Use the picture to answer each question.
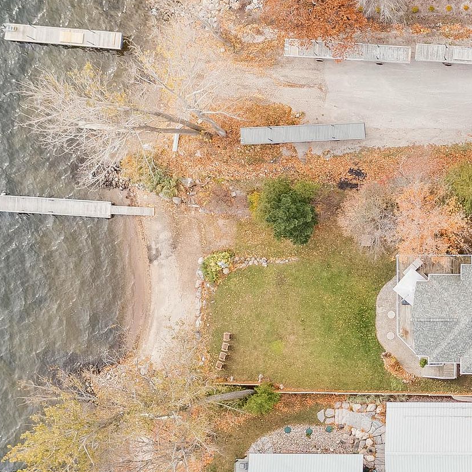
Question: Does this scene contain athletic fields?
No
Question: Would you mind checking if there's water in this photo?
Yes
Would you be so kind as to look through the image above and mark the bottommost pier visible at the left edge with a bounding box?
[0,196,112,217]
